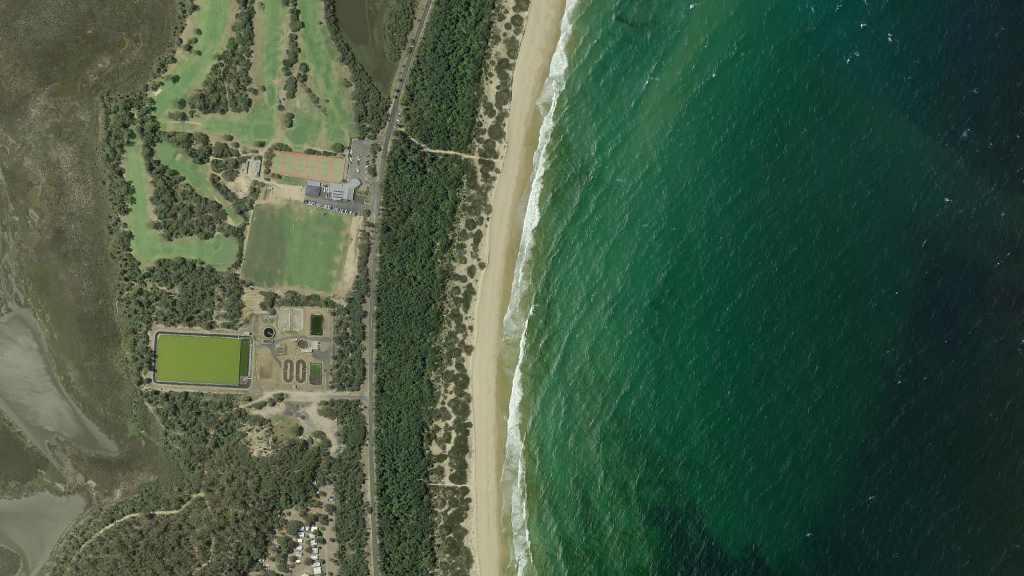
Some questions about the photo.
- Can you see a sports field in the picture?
Yes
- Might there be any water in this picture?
Yes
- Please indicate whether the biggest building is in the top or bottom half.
top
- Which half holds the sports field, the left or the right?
left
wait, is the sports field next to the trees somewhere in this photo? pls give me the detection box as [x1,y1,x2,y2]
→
[243,177,354,293]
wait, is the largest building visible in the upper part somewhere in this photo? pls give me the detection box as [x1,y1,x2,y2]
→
[329,179,361,201]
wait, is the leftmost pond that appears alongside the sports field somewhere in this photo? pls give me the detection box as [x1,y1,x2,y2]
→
[151,329,255,390]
